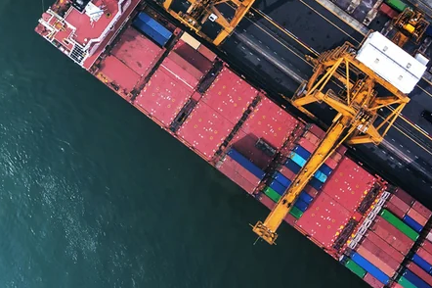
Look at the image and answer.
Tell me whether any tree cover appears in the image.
No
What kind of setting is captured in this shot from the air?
port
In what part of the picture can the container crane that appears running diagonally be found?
right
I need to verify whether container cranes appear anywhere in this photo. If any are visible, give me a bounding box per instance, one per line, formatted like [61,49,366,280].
[158,0,254,50]
[251,10,430,244]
